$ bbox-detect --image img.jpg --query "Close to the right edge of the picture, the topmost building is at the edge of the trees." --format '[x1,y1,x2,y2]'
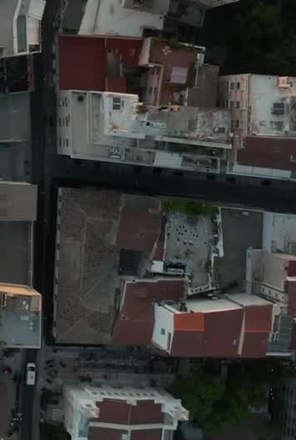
[218,74,296,137]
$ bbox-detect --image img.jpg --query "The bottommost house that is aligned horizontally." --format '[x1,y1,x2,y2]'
[58,379,190,440]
